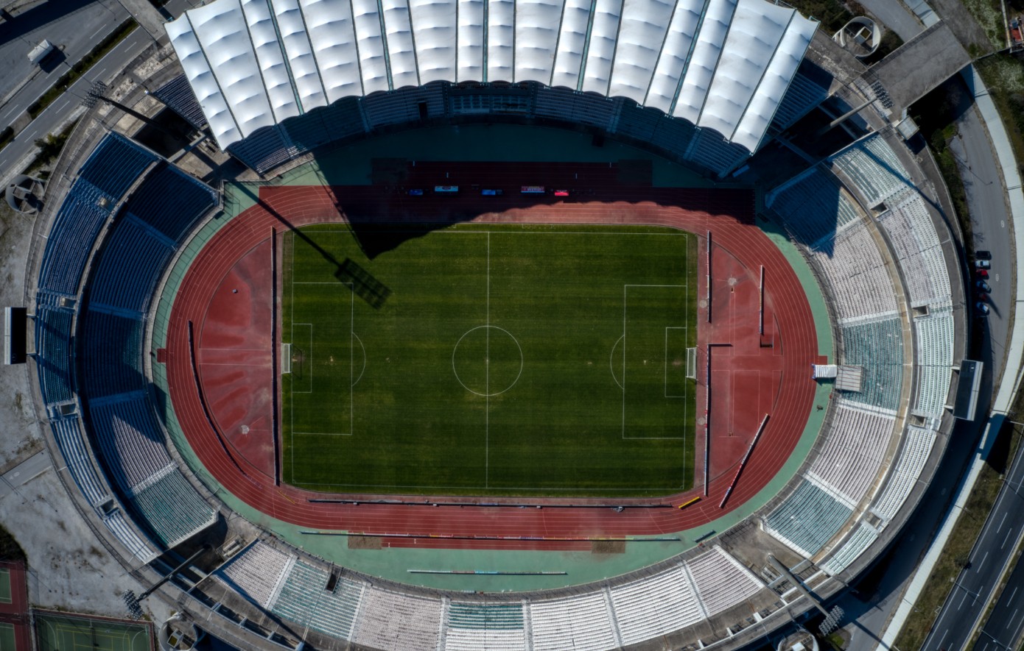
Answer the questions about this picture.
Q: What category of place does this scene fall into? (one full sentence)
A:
This looks like a sports ground.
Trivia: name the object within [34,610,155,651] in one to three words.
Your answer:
sports court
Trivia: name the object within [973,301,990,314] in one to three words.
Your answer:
vehicle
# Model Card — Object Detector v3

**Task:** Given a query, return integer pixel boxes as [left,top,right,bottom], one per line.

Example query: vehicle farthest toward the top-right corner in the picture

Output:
[1009,19,1022,42]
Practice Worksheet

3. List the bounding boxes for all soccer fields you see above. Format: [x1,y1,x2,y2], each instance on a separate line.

[282,223,699,497]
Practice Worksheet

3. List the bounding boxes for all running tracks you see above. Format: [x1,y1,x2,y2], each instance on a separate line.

[157,161,827,551]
